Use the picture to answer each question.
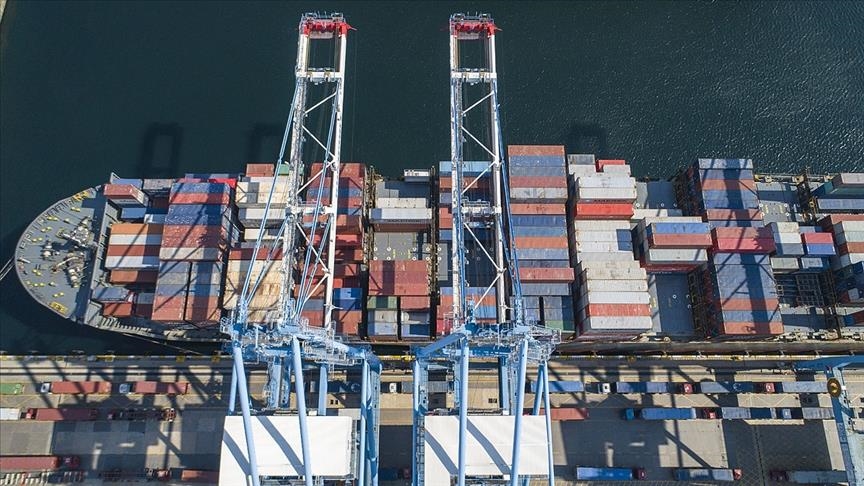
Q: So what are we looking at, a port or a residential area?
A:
port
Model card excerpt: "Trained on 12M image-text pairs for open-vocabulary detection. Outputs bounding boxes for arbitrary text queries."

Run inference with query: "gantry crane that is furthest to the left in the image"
[216,9,403,486]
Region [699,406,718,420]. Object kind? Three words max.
vehicle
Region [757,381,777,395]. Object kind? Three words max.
vehicle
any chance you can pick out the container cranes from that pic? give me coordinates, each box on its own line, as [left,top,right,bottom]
[786,362,864,486]
[216,9,403,486]
[407,9,565,486]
